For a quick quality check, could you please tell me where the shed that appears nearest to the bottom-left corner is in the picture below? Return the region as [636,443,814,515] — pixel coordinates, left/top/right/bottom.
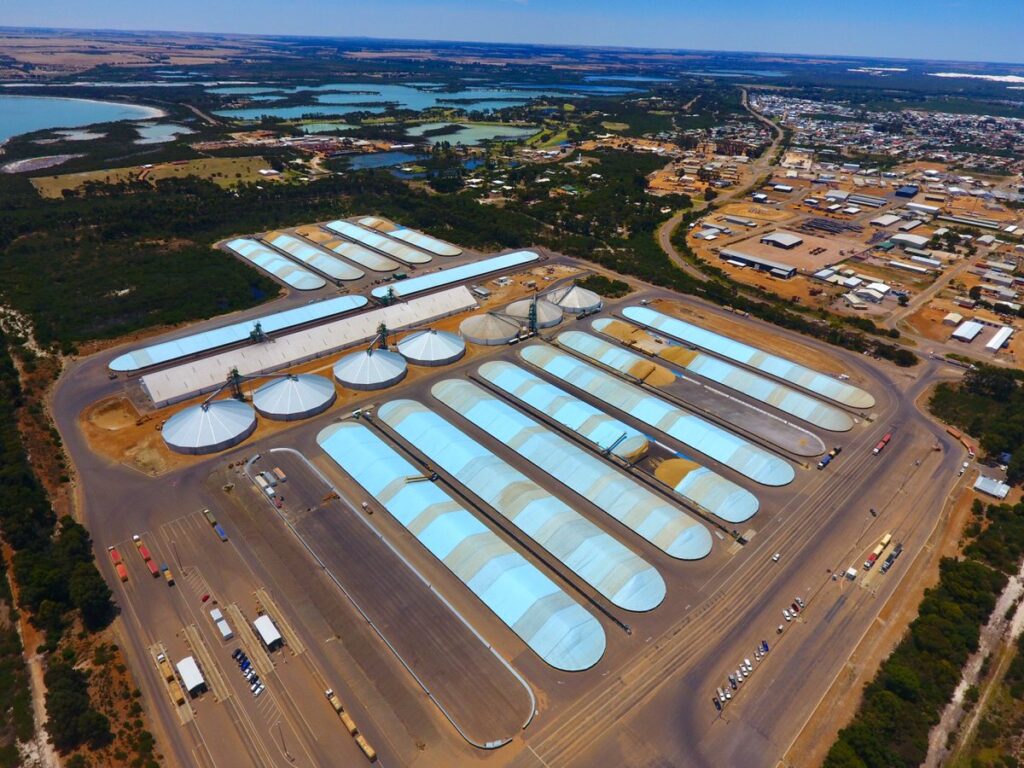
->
[175,654,207,699]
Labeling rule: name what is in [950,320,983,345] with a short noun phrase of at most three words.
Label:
shed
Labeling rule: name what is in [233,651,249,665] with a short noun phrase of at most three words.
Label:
vehicle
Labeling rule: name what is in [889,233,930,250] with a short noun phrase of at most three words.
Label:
shed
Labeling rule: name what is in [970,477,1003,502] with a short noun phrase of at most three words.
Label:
building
